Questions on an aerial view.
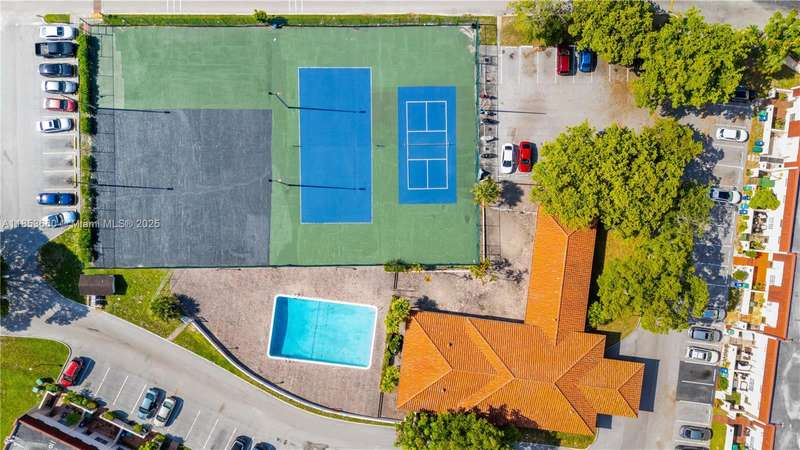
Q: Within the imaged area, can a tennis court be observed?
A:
Yes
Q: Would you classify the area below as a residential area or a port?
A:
residential area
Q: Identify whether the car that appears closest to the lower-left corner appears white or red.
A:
red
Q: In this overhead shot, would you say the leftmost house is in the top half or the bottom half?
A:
bottom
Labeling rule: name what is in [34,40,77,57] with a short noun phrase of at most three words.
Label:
vehicle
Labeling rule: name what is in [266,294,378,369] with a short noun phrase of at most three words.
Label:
swimming pool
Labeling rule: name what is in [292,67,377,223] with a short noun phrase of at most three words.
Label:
tennis court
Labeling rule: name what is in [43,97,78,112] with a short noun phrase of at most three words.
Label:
car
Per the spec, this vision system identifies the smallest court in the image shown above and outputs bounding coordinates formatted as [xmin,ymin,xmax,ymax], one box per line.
[398,86,456,204]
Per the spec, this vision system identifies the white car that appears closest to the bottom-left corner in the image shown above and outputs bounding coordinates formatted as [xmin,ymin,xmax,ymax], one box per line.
[153,395,177,427]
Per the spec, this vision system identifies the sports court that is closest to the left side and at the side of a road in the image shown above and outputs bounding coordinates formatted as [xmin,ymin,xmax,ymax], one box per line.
[90,109,271,264]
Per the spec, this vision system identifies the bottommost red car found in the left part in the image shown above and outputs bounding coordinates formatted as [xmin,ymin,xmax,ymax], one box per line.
[59,355,85,387]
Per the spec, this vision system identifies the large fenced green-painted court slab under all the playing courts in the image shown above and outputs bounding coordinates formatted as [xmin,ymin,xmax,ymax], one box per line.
[89,26,477,264]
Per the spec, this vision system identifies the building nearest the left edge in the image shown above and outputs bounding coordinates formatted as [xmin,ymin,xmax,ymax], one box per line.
[5,408,80,450]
